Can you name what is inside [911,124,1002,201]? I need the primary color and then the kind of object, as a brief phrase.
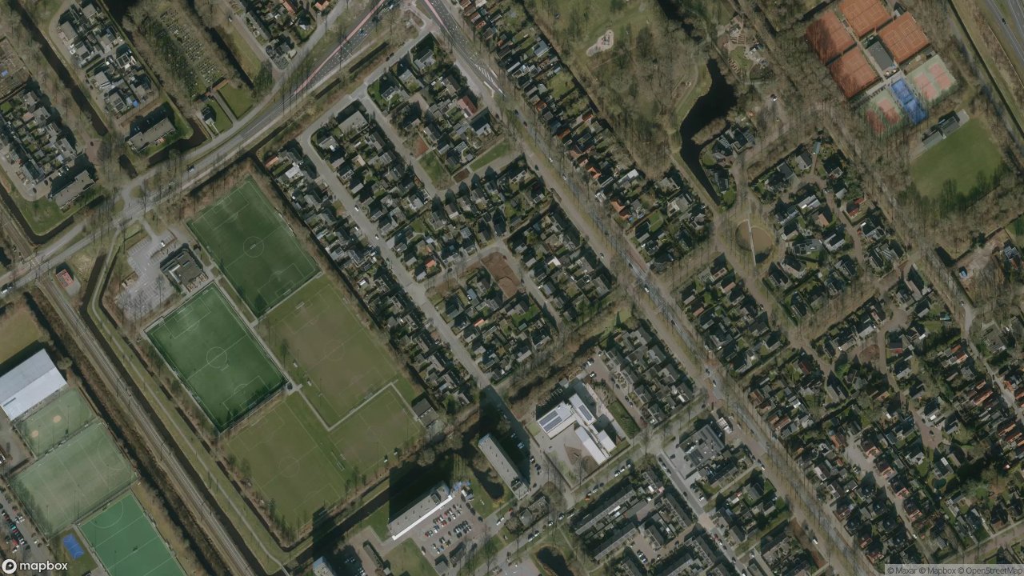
green sports field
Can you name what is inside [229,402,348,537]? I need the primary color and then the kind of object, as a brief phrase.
green soccer field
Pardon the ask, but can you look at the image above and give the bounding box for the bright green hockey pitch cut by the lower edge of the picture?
[80,493,188,576]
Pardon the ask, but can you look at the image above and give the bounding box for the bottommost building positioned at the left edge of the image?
[0,348,68,421]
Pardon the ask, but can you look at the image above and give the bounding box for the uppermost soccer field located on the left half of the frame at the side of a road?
[189,177,320,318]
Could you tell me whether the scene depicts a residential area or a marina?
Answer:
residential area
